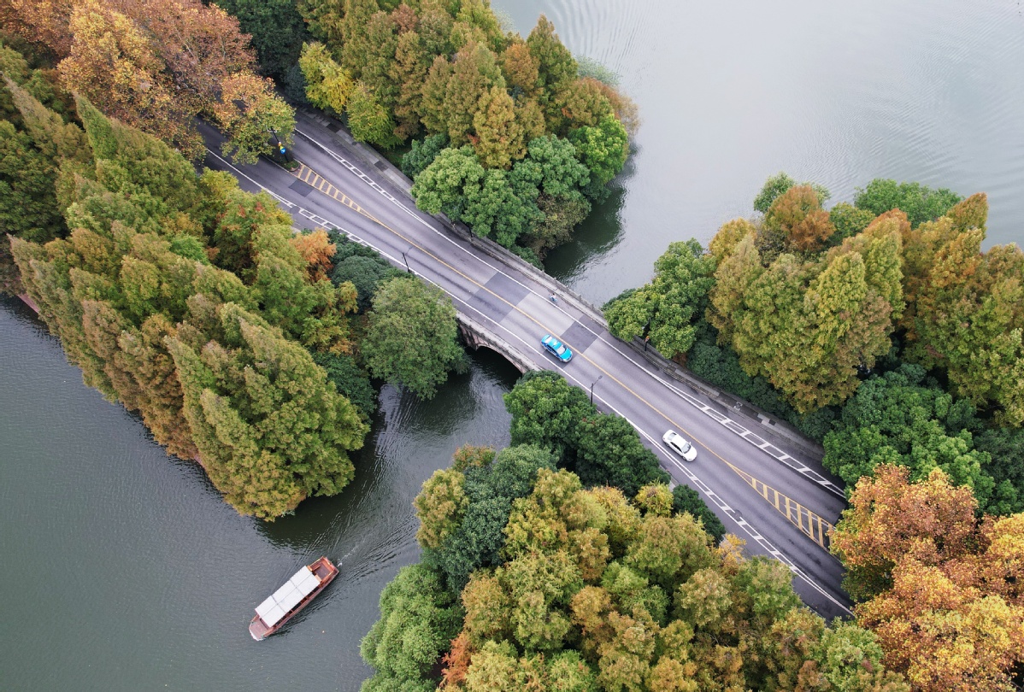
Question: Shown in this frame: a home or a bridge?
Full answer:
I can see a bridge in this picture.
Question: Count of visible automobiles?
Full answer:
My tally gives 2 automobiles in this view.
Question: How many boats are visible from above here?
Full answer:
Altogether the scene contains 1 boat.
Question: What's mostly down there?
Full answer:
For the most part, this view shows trees.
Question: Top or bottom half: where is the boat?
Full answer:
It is in the bottom half that the boat appears.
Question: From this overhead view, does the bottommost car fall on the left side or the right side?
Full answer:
The bottommost car sits on the right side.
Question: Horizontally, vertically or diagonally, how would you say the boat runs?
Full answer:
In this picture, the boat lies diagonally.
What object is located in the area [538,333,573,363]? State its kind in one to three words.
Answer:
car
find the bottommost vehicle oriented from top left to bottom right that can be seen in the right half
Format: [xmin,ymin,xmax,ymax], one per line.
[659,426,699,463]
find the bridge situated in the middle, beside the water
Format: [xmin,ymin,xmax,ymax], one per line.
[430,203,648,392]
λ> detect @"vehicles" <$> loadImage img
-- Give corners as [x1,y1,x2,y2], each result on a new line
[659,426,699,463]
[538,333,573,363]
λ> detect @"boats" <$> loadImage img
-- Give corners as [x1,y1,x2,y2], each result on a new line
[248,556,340,642]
